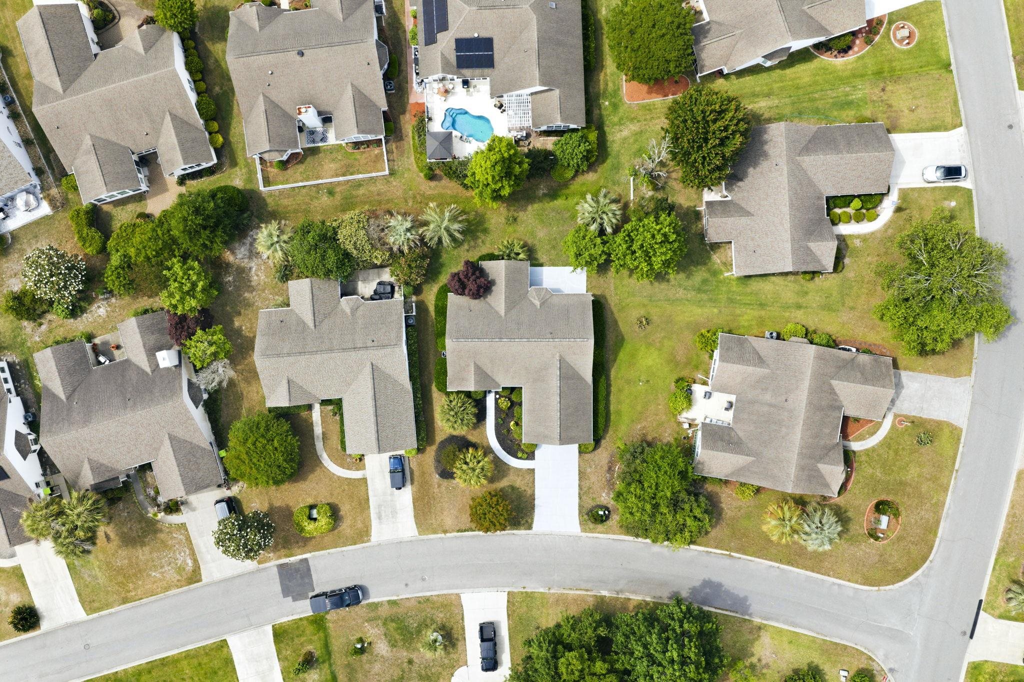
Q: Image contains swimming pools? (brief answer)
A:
Yes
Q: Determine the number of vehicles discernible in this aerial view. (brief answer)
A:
5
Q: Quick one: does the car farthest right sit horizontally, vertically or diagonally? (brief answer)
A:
horizontally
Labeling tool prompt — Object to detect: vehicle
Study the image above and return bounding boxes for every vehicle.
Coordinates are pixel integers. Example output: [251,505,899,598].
[307,585,365,613]
[215,495,238,531]
[920,161,969,182]
[477,619,498,672]
[386,452,408,494]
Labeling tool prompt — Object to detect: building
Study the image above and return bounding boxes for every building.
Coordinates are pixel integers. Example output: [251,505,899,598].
[226,0,389,163]
[692,333,895,496]
[0,103,34,195]
[446,260,594,445]
[701,121,895,278]
[692,0,871,78]
[34,309,230,501]
[0,356,63,550]
[18,4,218,205]
[254,276,418,454]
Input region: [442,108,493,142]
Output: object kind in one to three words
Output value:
swimming pool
